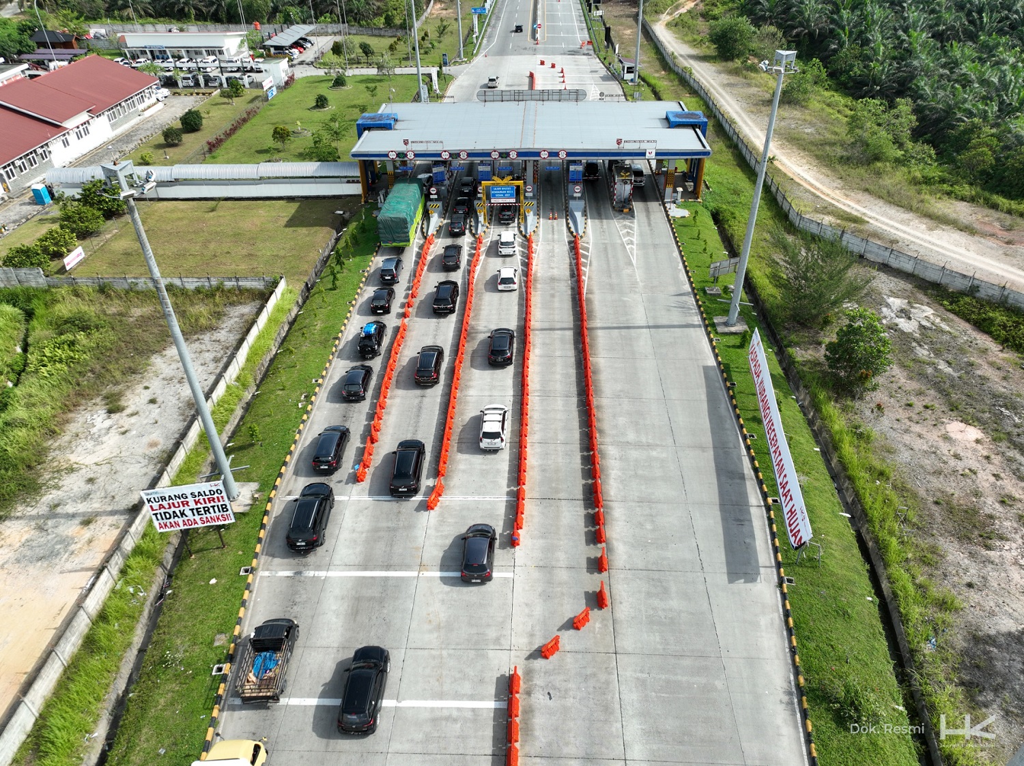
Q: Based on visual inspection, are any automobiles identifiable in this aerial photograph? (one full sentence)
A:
Yes, the frame does contain an automobile.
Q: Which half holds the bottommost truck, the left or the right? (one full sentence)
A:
The bottommost truck sits on the left side.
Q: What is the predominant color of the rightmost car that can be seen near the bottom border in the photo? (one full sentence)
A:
The rightmost car that can be seen near the bottom border is black.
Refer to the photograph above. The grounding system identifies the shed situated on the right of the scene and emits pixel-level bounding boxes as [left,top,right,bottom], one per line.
[618,56,644,82]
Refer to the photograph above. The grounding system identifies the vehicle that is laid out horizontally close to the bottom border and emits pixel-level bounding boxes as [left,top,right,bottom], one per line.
[194,728,279,766]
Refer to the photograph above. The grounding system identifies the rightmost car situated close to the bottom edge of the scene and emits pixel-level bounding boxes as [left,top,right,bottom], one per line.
[340,639,395,734]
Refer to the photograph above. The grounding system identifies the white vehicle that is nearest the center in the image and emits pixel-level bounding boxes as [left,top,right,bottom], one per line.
[478,400,511,451]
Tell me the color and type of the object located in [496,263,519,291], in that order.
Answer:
white car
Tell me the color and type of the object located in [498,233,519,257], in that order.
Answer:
white car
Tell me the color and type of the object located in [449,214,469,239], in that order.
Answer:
black car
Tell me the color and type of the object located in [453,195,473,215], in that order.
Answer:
black car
